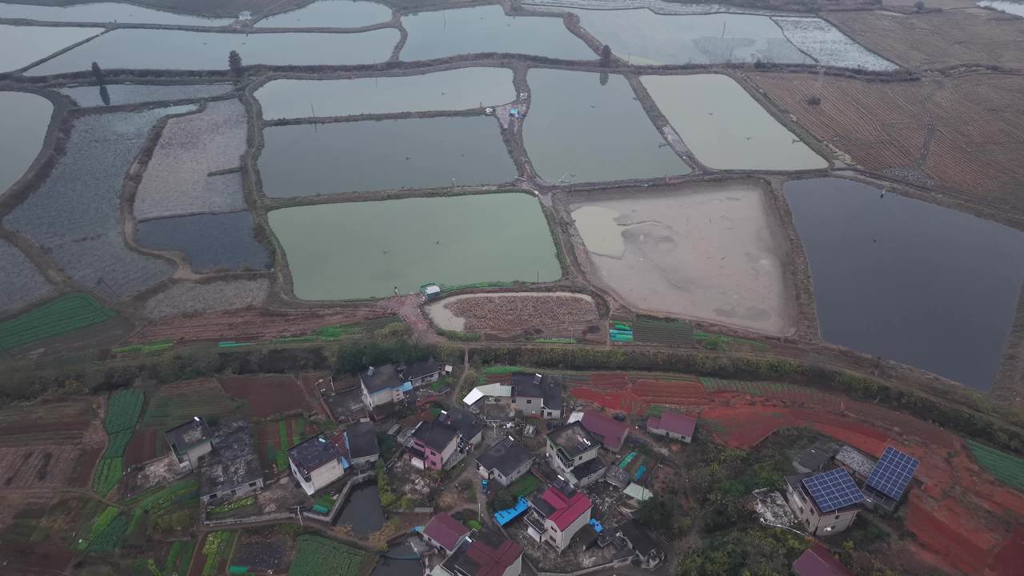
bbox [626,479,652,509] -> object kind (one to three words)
shed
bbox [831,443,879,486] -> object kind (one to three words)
house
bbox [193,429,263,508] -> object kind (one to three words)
house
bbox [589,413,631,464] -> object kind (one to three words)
barn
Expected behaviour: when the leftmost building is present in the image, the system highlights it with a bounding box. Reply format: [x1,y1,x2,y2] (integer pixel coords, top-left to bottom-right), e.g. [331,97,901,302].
[160,417,214,477]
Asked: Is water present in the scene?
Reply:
Yes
